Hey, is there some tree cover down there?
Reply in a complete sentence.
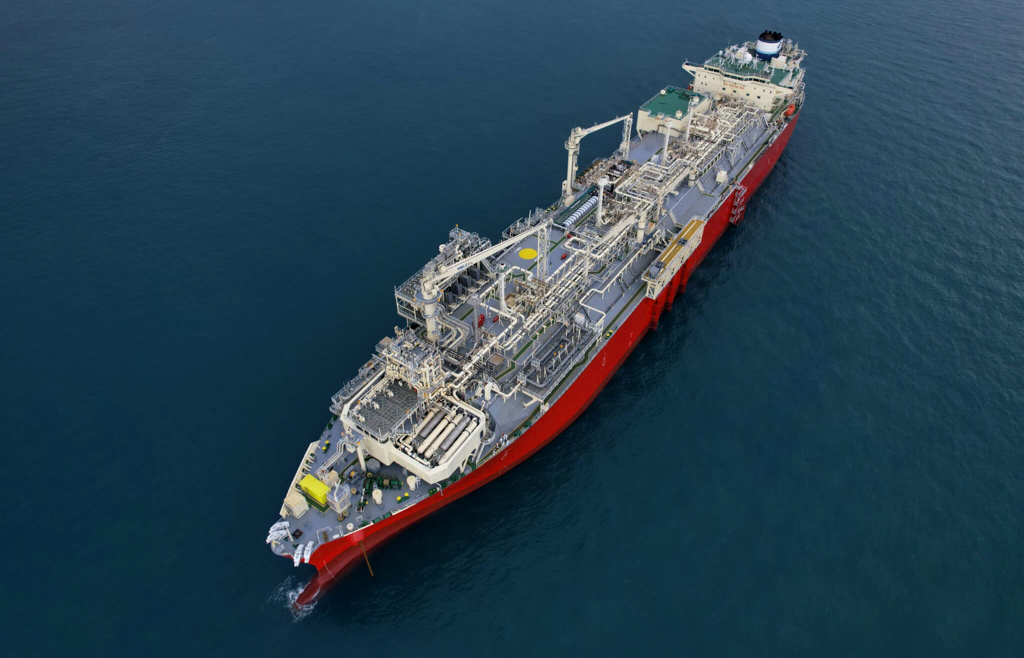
No, there is no tree cover in the image.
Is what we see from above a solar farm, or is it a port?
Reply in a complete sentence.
What you see here is a port.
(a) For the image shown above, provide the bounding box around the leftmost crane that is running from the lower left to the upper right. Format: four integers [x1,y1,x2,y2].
[407,215,553,329]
